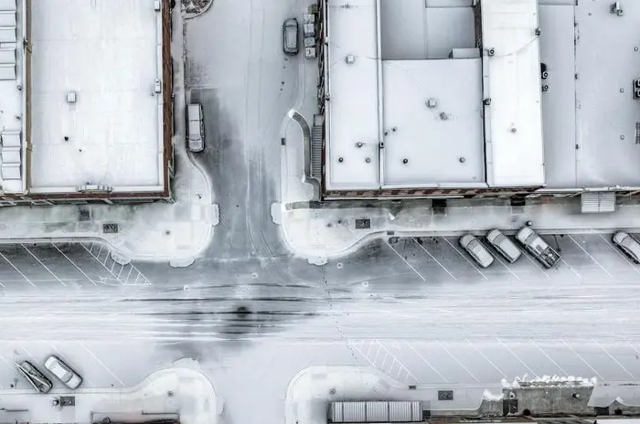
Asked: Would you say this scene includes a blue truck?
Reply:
No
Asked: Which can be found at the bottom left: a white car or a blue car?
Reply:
white car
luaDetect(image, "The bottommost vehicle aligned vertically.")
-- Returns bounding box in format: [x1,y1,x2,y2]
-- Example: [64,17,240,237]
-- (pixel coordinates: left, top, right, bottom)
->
[185,104,205,153]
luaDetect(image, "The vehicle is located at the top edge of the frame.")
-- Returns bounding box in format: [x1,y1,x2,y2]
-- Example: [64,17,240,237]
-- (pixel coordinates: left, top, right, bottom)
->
[282,17,299,57]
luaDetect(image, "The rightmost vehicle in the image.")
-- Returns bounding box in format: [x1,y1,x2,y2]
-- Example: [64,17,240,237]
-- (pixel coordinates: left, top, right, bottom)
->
[611,230,640,266]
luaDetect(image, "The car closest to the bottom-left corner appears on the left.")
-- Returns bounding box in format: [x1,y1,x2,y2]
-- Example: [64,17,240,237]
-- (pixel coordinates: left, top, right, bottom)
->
[21,361,54,394]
